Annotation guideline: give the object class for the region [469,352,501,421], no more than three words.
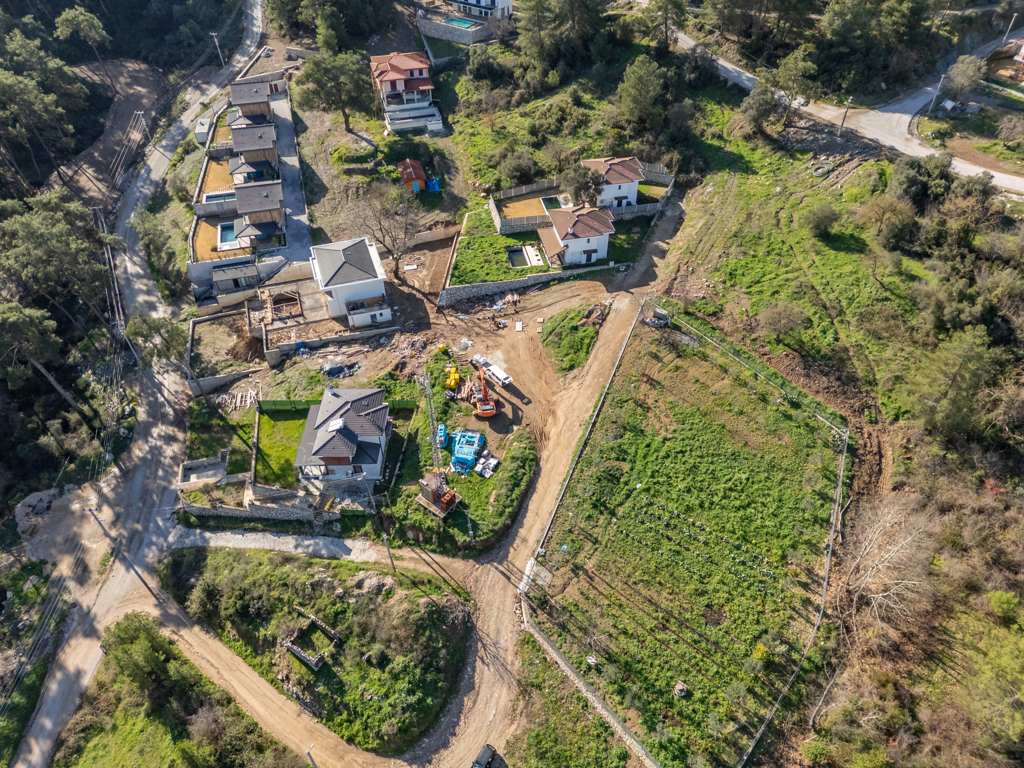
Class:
work vehicle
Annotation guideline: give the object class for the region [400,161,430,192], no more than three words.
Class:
shed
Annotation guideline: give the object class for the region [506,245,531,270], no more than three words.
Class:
swimming pool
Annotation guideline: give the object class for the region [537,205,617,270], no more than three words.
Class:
house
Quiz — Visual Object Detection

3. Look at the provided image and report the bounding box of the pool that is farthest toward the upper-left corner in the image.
[202,190,235,203]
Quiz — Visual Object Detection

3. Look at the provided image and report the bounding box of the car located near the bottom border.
[468,742,498,768]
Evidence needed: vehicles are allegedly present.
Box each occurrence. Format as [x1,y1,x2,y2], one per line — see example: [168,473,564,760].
[469,352,501,421]
[482,364,519,395]
[468,742,498,768]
